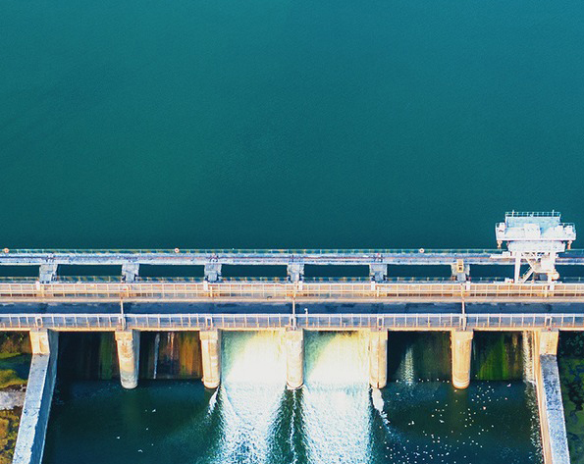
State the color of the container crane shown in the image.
white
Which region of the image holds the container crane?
right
